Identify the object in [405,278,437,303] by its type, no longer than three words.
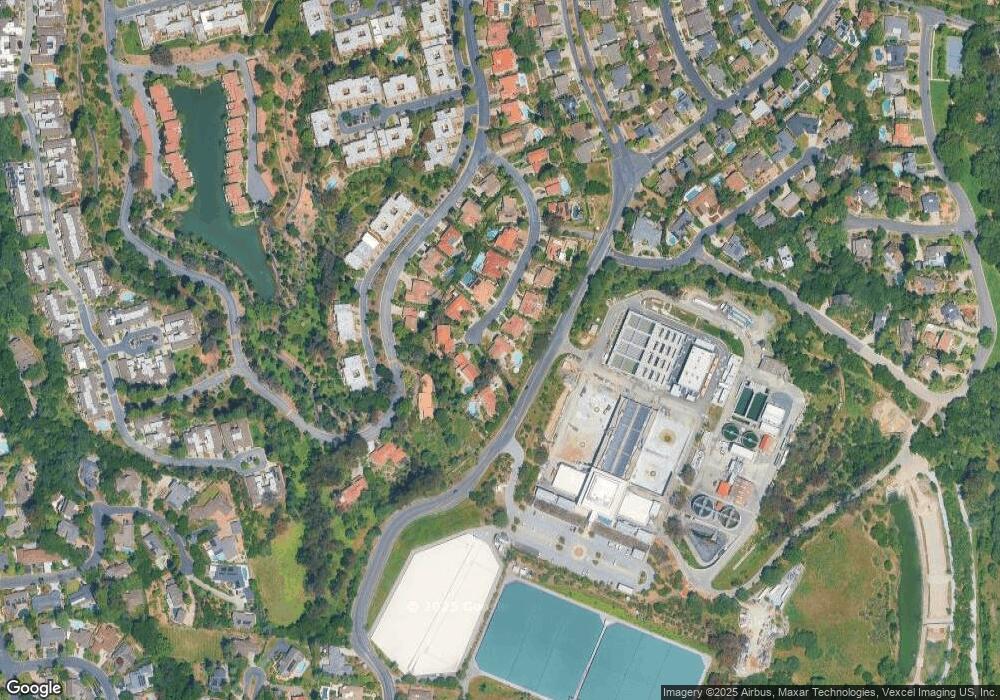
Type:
house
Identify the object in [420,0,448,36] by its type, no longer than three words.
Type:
building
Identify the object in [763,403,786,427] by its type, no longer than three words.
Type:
shed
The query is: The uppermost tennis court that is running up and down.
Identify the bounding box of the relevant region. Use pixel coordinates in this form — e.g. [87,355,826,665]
[945,35,963,78]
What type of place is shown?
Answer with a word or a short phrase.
residential area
